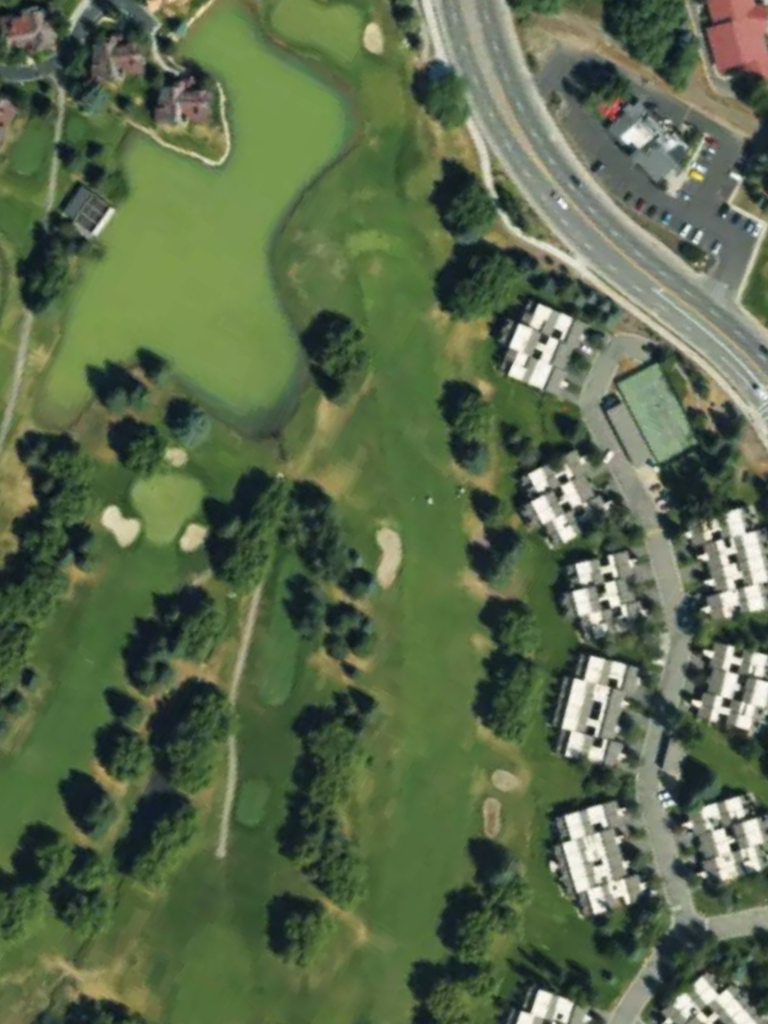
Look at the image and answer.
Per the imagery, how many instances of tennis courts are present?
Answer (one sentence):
My tally gives 1 tennis court in this photo.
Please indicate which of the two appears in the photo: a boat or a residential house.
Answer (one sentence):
Of the two, only a residential house appears.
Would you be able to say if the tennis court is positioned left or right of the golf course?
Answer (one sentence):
Looking at the photo, the tennis court lies to the right of the golf course.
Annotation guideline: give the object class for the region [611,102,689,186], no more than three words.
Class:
building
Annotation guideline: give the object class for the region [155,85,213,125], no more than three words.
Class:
house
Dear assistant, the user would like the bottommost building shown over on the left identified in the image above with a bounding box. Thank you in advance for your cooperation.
[63,184,116,234]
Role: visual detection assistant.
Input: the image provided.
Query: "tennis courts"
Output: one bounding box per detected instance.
[618,364,697,464]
